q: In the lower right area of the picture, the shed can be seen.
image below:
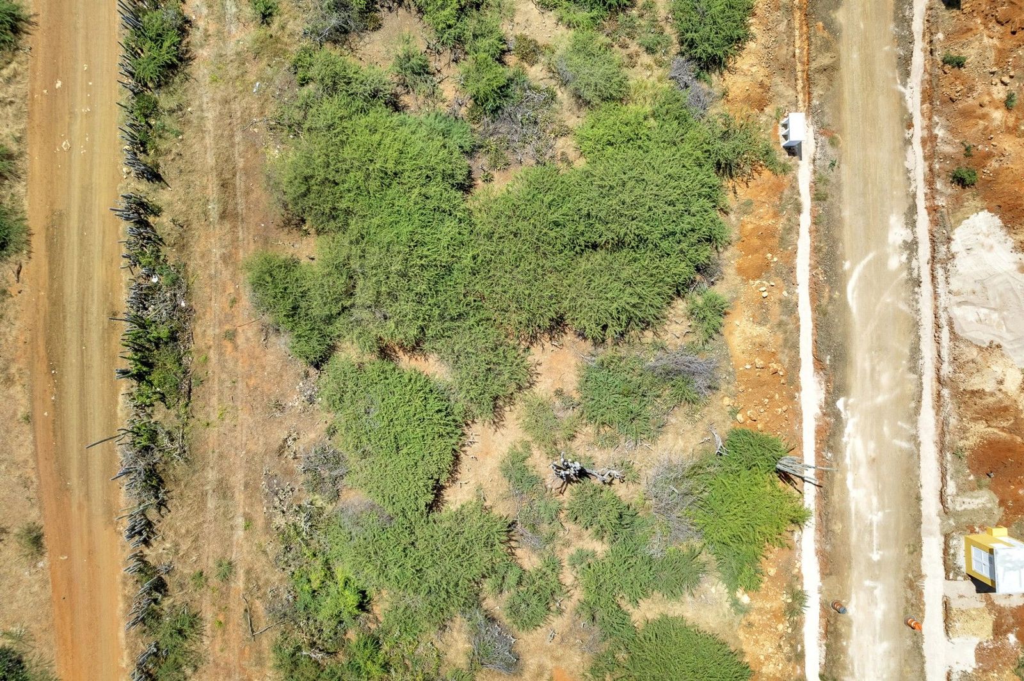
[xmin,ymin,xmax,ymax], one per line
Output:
[965,528,1024,593]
